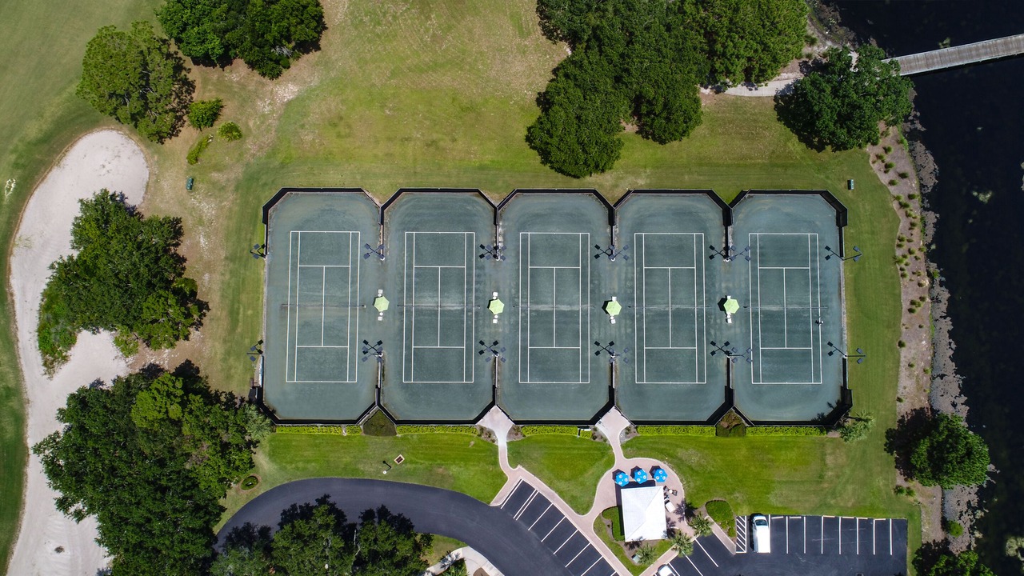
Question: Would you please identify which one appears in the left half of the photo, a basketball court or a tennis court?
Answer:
tennis court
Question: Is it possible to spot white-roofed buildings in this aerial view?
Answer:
Yes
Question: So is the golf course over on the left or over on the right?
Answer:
left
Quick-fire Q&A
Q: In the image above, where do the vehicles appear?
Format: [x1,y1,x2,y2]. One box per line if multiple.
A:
[753,516,770,554]
[664,499,677,514]
[660,563,679,576]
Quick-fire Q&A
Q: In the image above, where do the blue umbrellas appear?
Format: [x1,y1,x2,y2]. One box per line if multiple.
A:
[616,472,629,486]
[634,470,647,483]
[654,470,667,482]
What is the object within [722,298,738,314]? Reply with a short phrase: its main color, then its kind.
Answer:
green umbrella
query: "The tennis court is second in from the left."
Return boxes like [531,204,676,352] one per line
[380,192,497,423]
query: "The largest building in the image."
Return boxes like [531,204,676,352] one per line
[621,486,667,542]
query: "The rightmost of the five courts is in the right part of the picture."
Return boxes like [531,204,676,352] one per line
[726,194,846,425]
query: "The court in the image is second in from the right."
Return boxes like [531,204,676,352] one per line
[612,193,729,424]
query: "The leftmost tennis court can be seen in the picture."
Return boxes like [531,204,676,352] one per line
[263,191,382,422]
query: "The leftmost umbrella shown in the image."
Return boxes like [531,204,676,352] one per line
[374,297,389,312]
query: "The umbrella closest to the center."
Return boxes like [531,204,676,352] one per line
[489,299,504,314]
